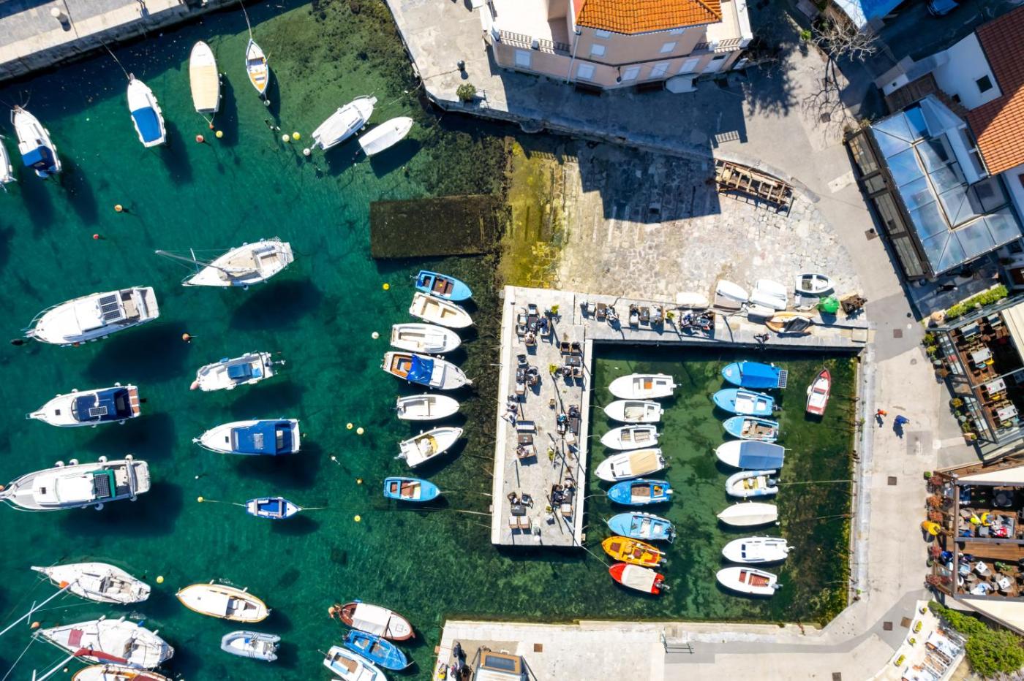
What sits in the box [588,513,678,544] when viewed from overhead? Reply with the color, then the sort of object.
blue boat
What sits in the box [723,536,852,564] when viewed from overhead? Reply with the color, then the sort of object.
white boat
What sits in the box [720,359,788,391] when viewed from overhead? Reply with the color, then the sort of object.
blue boat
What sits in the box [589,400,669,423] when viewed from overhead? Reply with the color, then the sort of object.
white boat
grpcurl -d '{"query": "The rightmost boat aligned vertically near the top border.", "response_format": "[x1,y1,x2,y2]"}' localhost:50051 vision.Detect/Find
[242,2,274,99]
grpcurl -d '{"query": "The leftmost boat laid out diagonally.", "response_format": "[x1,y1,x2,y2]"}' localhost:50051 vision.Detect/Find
[0,85,66,181]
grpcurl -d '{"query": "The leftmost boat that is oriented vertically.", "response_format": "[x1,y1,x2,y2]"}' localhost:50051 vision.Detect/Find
[0,136,23,192]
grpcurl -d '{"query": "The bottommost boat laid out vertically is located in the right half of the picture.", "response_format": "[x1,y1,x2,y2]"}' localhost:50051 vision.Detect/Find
[806,359,830,415]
